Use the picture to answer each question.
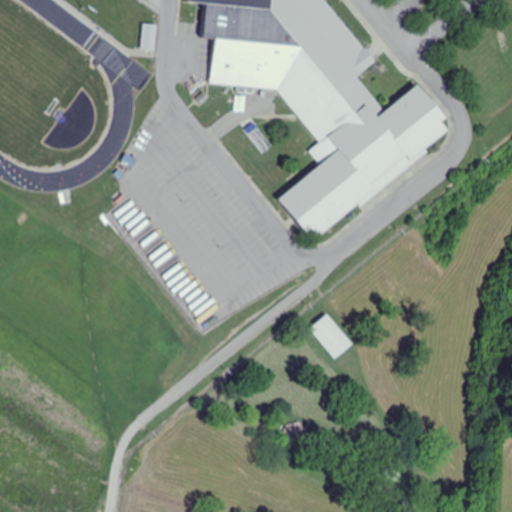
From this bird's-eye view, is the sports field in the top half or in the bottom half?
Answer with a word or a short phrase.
top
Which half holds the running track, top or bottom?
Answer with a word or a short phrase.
top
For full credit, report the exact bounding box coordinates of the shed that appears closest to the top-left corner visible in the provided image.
[139,24,157,52]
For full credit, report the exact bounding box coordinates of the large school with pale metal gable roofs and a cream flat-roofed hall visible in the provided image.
[182,0,448,234]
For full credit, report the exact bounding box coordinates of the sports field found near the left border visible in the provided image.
[0,0,108,168]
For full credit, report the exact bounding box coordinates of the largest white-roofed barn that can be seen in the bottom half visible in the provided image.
[310,314,352,360]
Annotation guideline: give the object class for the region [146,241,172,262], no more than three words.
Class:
bus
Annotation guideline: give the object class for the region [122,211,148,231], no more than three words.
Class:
bus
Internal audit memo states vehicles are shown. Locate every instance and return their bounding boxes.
[110,198,136,220]
[146,241,172,262]
[191,298,217,318]
[150,248,176,269]
[180,284,206,306]
[126,217,152,238]
[132,141,144,152]
[184,292,210,312]
[206,316,217,324]
[176,278,202,299]
[115,207,141,227]
[122,211,148,231]
[160,260,186,281]
[194,304,220,324]
[140,129,152,140]
[168,274,194,295]
[136,228,163,250]
[136,134,148,146]
[164,268,190,288]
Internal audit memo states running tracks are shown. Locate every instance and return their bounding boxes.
[0,0,151,192]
